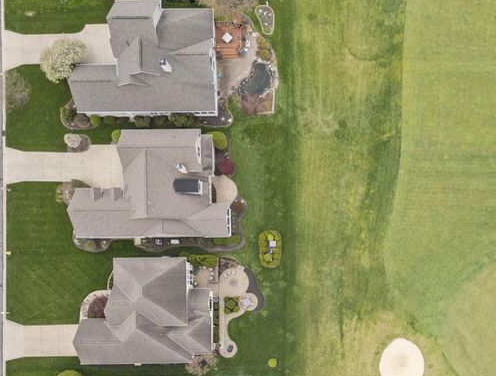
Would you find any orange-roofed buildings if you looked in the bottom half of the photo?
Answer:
No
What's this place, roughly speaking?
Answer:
golf course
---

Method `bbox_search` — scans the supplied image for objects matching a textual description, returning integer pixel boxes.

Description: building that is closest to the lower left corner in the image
[73,257,213,367]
